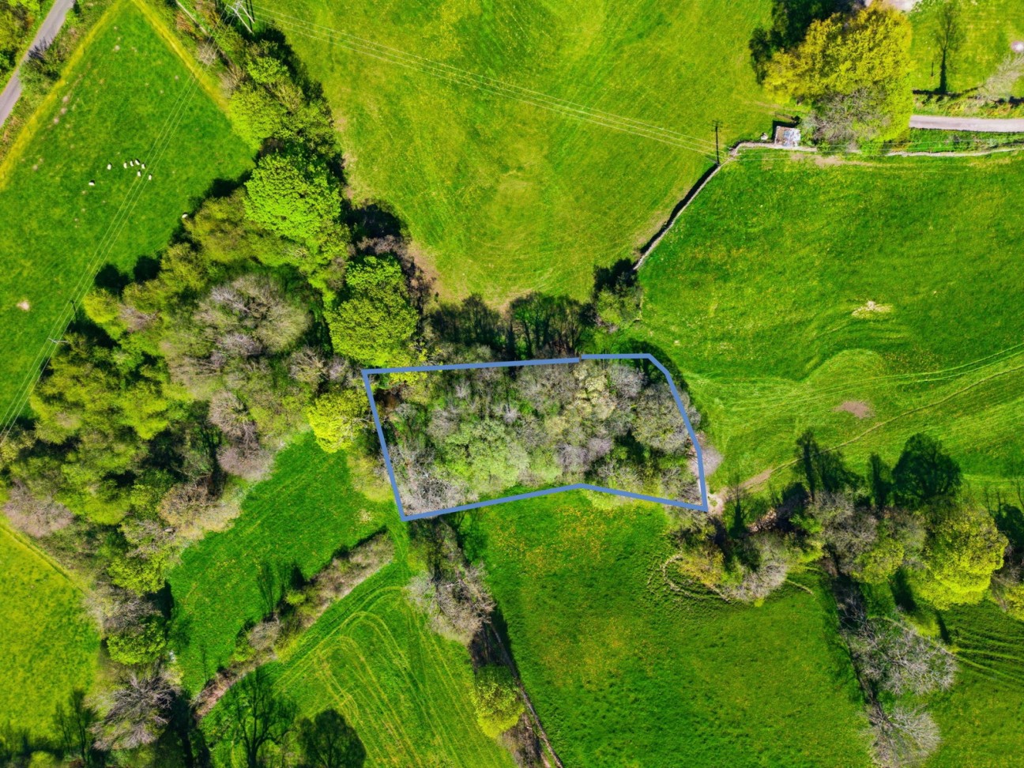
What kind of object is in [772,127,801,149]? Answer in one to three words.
shed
